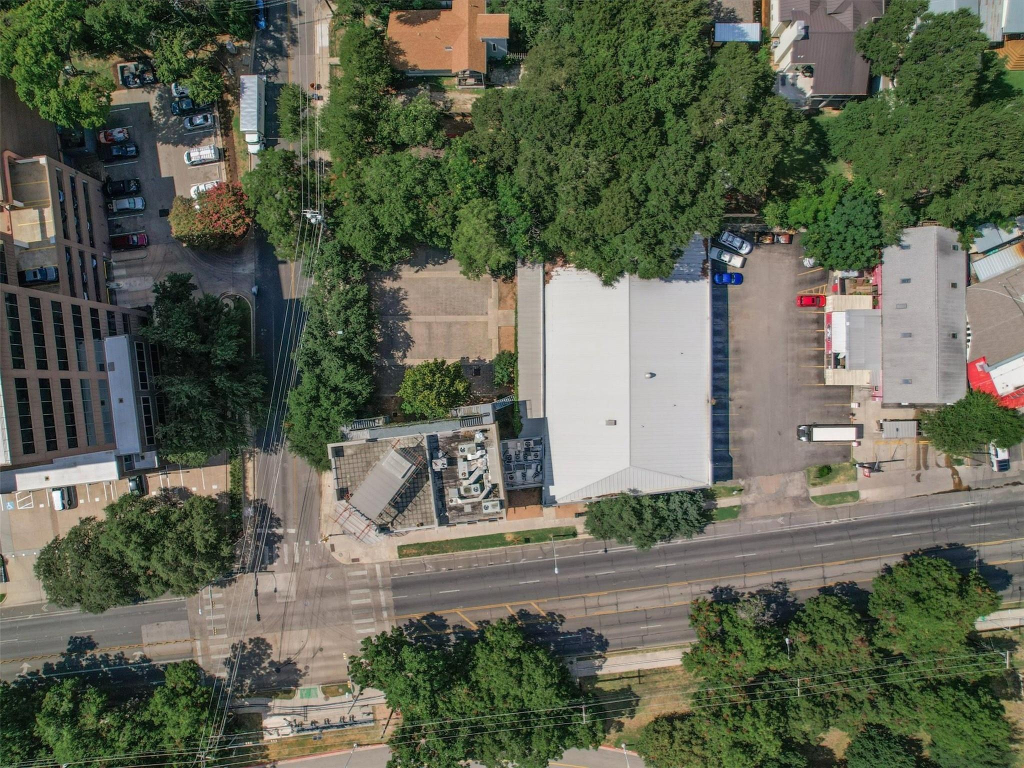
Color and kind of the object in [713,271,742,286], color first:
blue car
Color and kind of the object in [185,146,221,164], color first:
white vehicle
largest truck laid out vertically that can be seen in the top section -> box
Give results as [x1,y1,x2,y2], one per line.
[240,75,265,157]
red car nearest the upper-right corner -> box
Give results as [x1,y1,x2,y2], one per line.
[795,294,825,308]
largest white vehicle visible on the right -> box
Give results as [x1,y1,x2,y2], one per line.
[788,423,856,441]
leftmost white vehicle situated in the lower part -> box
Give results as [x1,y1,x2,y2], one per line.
[49,486,69,514]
